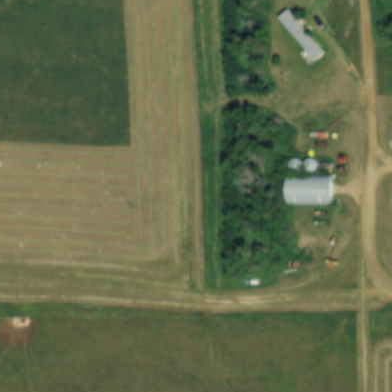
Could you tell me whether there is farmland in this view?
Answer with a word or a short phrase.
Yes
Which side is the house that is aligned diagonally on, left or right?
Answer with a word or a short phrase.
right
